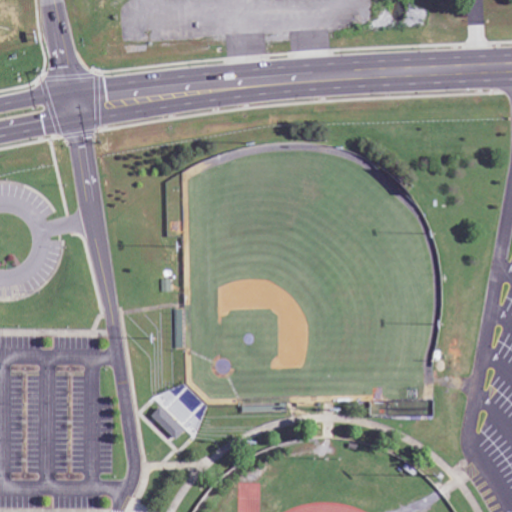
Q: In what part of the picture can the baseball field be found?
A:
center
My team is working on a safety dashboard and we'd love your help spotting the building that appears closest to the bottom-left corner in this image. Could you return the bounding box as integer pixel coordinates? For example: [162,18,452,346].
[151,406,184,440]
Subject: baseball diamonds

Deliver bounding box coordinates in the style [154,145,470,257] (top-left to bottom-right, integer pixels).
[170,142,442,413]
